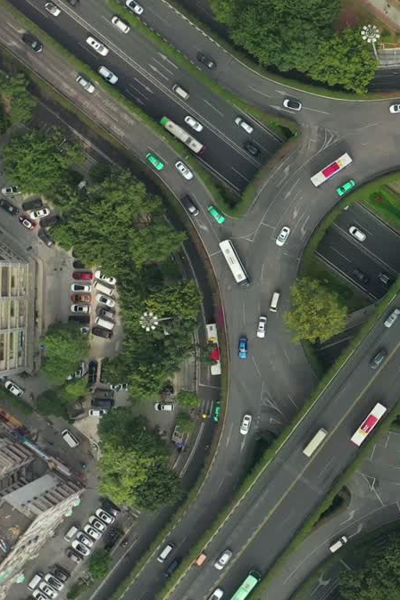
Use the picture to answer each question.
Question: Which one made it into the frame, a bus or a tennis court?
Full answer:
I can see a bus in this picture.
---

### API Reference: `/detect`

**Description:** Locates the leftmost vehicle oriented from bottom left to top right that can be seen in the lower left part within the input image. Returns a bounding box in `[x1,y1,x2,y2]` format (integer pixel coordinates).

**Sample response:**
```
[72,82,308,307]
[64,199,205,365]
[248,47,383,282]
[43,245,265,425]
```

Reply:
[23,572,42,594]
